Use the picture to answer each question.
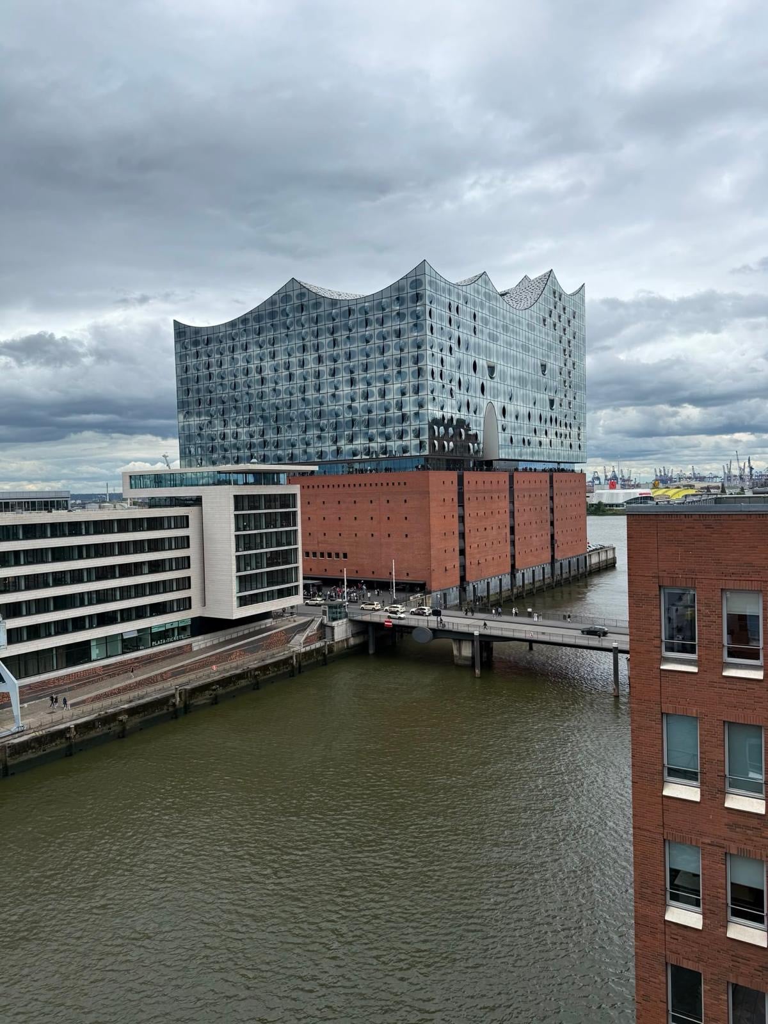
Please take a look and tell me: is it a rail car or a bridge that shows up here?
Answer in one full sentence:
Visible in the photo is a bridge.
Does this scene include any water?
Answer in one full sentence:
Yes, water can be seen from above here.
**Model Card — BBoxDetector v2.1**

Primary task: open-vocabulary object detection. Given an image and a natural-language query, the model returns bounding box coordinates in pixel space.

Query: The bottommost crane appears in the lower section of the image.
[0,622,31,730]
